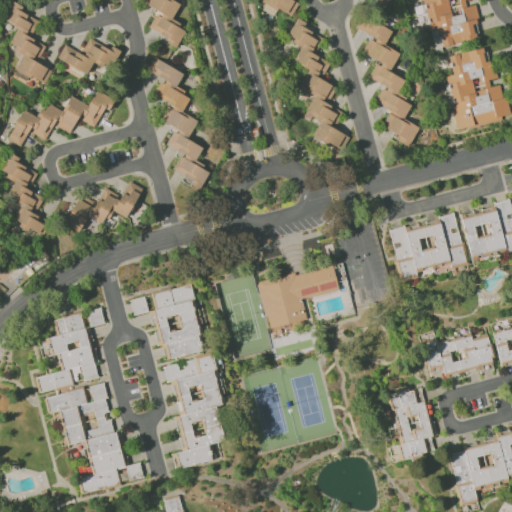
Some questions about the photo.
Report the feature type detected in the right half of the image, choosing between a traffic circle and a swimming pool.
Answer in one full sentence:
It is a swimming pool that can be seen in the right half of the image.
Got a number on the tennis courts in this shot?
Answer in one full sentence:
In total, there are 3 tennis courts in the scene.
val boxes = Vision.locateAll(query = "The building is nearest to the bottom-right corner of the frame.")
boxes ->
[450,434,512,506]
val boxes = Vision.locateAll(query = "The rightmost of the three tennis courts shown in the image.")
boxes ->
[280,358,338,440]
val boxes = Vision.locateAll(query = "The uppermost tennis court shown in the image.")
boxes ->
[217,276,272,358]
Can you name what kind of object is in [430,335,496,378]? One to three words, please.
building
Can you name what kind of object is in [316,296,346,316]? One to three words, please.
swimming pool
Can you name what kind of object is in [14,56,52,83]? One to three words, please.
house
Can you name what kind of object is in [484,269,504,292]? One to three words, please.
swimming pool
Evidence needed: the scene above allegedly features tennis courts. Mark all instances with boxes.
[244,368,300,452]
[280,358,338,440]
[217,276,272,358]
